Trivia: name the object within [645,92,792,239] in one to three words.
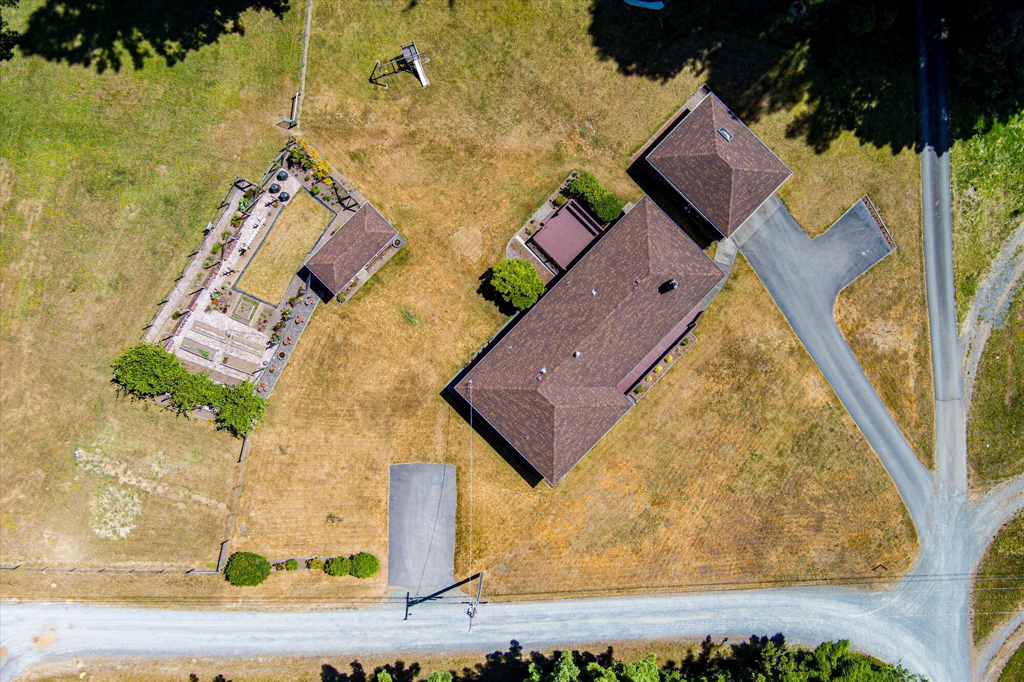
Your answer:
building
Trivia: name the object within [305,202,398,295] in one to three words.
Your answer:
shed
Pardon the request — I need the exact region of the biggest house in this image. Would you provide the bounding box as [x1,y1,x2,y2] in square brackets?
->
[454,195,727,486]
